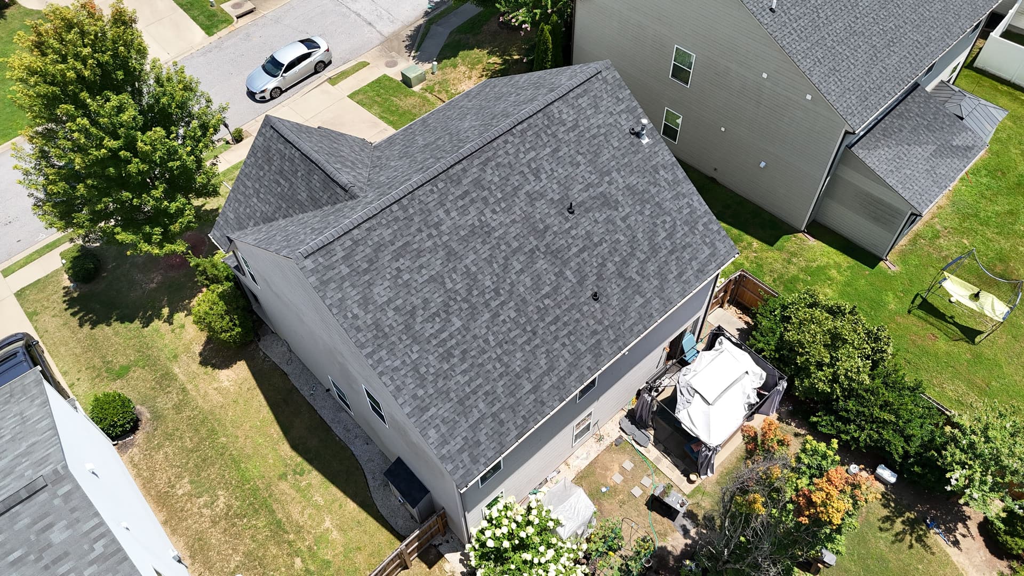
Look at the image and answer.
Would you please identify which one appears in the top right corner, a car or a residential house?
residential house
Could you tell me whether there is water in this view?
No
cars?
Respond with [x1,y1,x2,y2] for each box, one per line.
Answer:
[243,37,334,102]
[0,333,68,400]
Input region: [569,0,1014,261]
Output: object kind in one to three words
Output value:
house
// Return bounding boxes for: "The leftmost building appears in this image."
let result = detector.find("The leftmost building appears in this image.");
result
[0,365,192,576]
